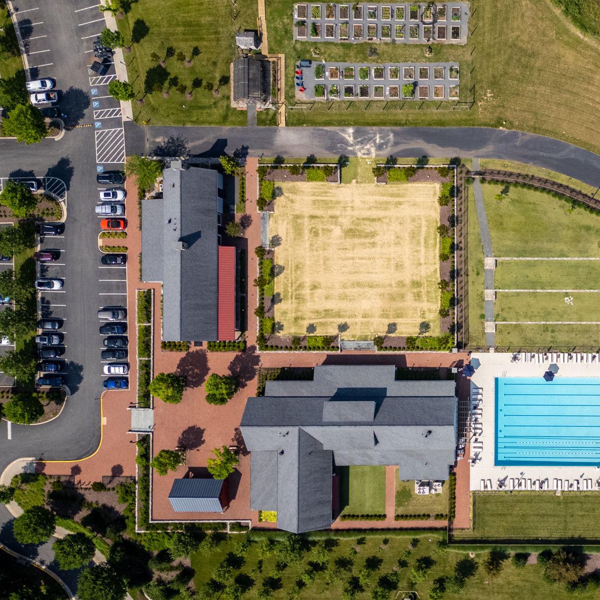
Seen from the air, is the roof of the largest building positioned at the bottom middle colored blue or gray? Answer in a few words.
gray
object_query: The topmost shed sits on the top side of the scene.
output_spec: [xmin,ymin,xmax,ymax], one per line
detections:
[237,32,258,49]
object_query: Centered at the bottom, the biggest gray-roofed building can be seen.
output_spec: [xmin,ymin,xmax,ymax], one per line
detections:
[240,366,456,533]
